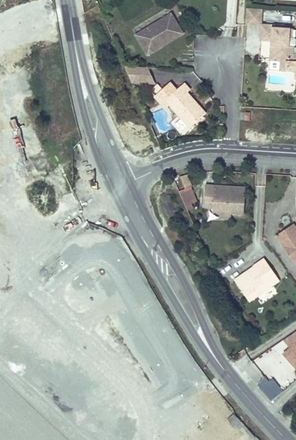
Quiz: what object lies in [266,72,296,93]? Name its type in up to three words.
swimming pool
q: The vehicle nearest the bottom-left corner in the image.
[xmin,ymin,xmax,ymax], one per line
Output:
[66,217,88,232]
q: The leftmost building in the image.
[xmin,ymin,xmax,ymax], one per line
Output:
[125,67,156,84]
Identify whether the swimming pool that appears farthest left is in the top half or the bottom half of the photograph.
top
